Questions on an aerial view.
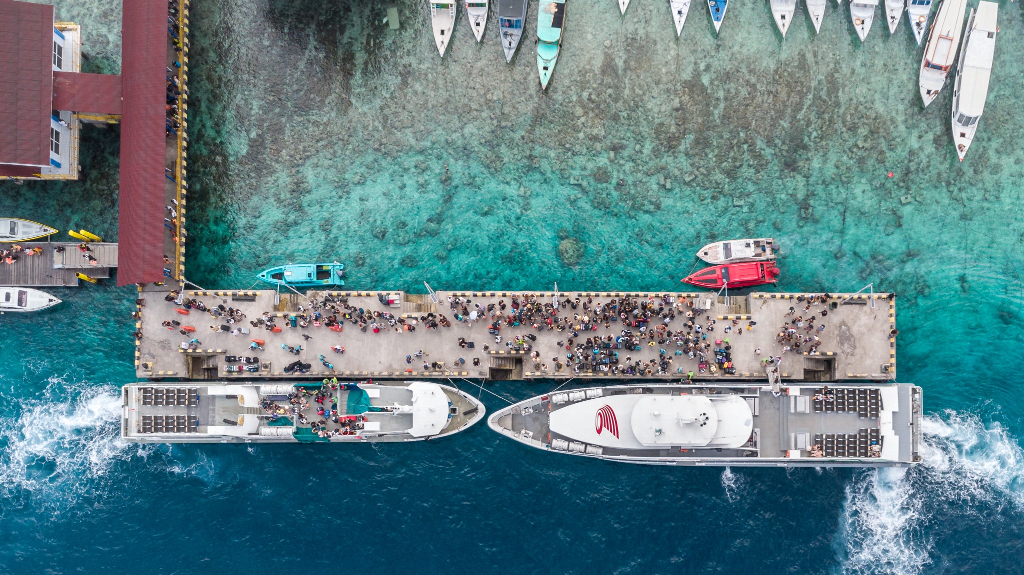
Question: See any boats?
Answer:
Yes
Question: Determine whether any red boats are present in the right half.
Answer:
Yes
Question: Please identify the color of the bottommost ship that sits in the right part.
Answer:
white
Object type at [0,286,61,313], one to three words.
boat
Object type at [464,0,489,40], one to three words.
boat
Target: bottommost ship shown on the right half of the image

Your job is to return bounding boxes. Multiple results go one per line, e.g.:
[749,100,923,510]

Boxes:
[487,383,924,467]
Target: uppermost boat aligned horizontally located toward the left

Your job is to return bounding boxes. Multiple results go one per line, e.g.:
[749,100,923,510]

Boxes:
[0,216,58,243]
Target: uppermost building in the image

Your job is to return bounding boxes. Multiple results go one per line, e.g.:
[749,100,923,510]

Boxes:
[0,0,110,189]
